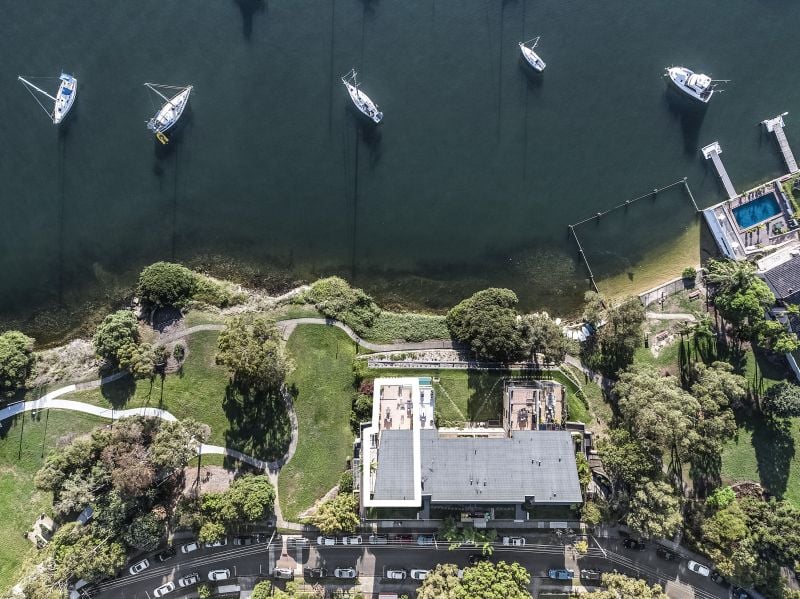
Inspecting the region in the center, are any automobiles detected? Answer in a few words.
No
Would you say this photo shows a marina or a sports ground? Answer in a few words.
marina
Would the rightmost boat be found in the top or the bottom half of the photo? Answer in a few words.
top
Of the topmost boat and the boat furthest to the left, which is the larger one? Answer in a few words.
the boat furthest to the left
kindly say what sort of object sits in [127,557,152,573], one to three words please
car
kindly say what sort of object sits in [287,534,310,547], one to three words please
vehicle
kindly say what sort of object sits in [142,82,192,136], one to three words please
boat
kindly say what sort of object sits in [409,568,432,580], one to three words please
vehicle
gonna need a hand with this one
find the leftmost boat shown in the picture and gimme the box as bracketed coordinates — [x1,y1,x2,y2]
[18,73,75,123]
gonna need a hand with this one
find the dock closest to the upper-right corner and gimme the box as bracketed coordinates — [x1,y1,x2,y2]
[762,112,799,173]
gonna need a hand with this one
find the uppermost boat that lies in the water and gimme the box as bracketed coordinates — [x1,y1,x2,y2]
[520,36,545,73]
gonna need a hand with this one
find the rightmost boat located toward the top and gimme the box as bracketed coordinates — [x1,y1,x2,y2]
[666,68,738,106]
